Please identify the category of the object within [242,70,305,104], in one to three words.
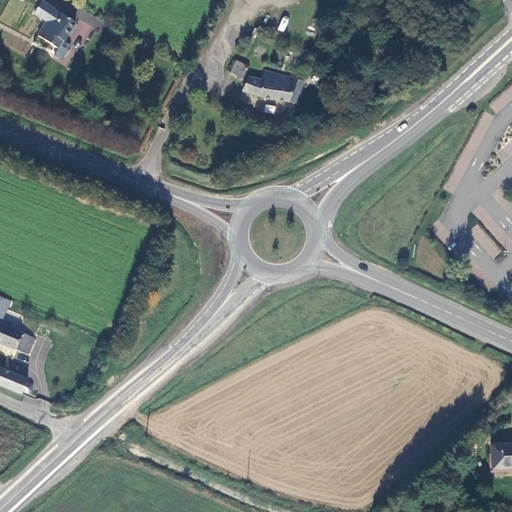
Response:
house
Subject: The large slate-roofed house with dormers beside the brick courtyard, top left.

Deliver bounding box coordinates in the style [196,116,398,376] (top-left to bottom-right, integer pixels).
[34,0,76,59]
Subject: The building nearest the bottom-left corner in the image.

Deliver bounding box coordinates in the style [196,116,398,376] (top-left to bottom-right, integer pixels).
[0,368,32,396]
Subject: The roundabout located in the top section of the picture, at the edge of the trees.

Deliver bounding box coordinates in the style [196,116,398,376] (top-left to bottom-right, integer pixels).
[163,104,421,288]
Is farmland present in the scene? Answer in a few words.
Yes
